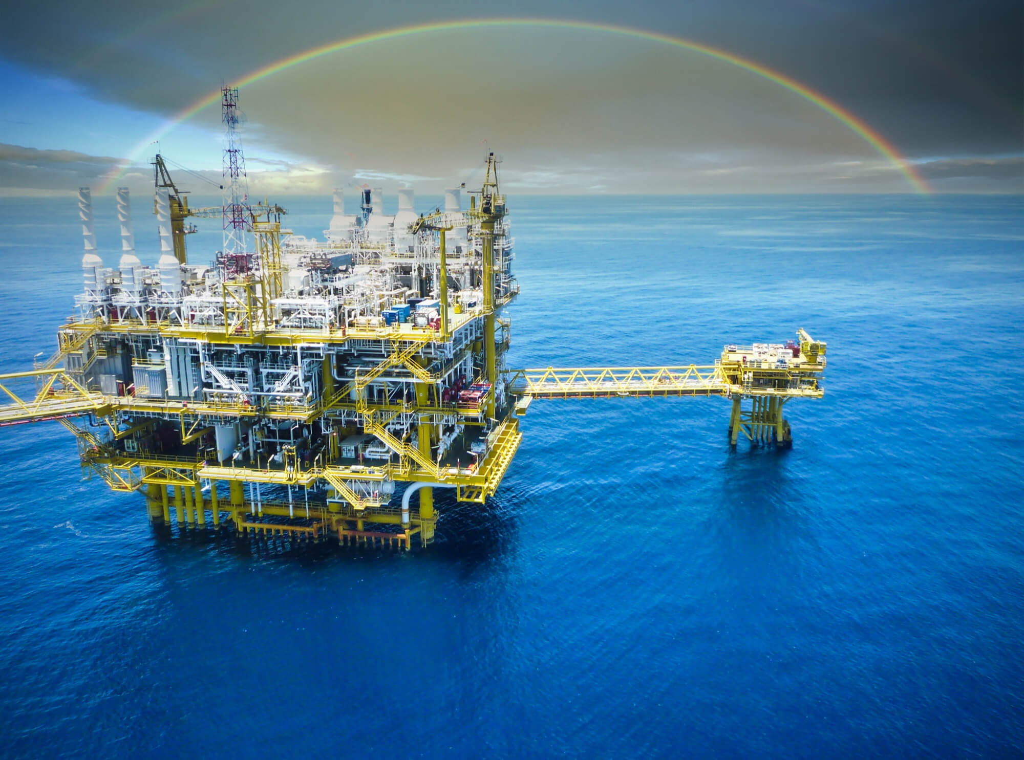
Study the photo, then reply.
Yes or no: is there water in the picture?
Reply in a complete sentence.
Yes, water can be seen from above here.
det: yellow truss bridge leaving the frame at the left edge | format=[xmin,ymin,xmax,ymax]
[0,370,129,435]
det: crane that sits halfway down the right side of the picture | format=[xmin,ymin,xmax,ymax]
[792,329,833,362]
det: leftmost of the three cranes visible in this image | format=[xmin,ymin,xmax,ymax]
[153,141,290,274]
